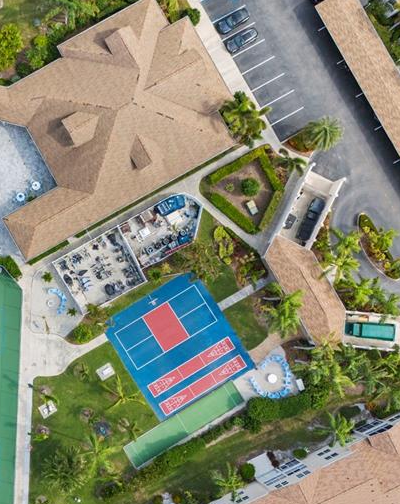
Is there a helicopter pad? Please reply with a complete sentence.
No, I find no helicopter pad anywhere in the image.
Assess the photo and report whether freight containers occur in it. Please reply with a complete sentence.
No, no freight container is visible in the view.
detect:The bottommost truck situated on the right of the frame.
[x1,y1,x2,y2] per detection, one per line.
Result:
[348,320,395,341]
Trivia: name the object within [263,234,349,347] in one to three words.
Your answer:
building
